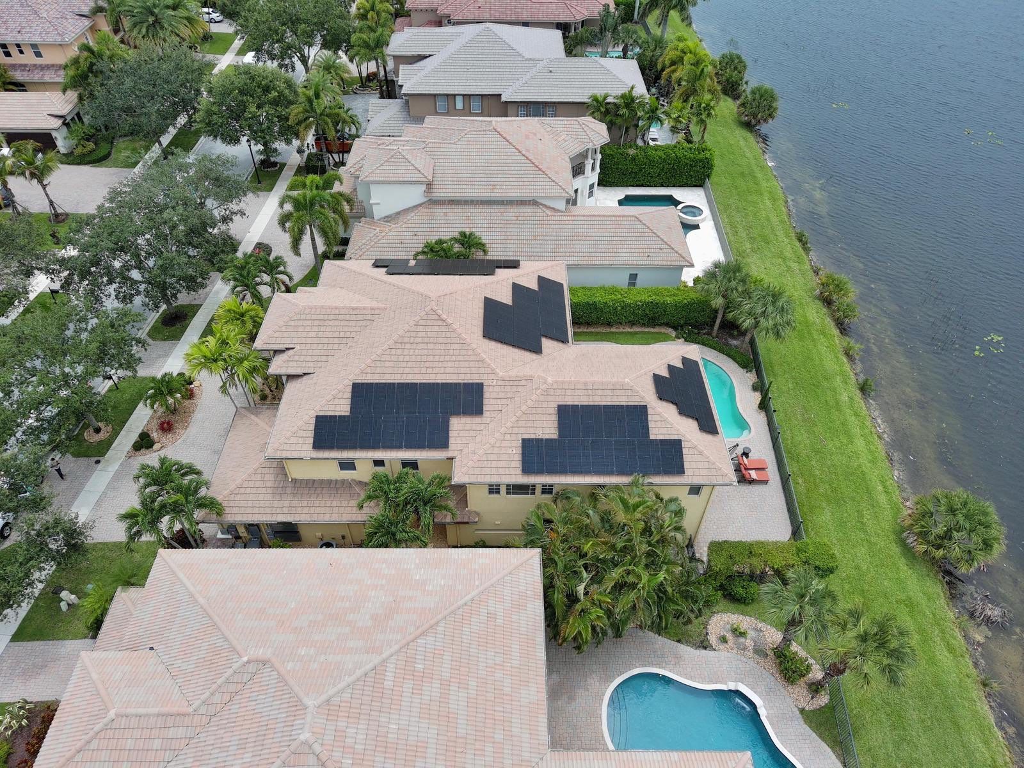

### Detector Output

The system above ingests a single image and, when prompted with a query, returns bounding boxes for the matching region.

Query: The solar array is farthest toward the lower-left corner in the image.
[311,384,485,450]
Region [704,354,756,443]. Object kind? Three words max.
swimming pool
